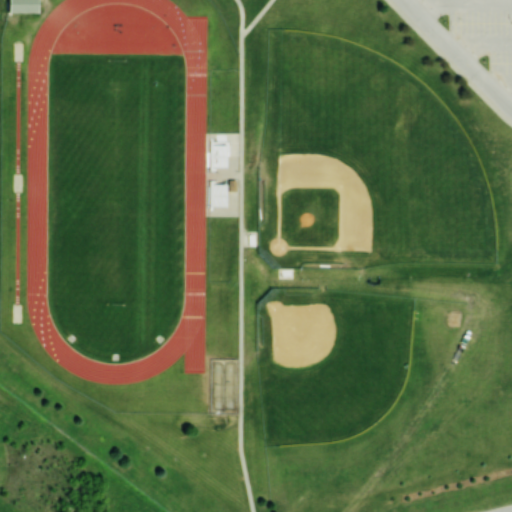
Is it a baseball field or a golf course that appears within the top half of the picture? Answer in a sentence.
The one visible within the top half of the picture is a baseball field.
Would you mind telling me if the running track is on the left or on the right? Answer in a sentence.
The running track is on the left side of the image.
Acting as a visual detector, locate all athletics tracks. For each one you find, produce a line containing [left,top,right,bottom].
[26,0,207,384]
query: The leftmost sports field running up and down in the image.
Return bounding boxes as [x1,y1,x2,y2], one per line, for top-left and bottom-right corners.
[47,54,186,364]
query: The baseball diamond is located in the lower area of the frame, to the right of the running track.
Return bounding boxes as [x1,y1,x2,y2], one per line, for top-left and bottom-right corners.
[257,288,414,446]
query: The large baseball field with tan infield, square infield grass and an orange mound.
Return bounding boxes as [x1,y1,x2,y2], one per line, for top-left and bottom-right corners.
[260,28,498,268]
